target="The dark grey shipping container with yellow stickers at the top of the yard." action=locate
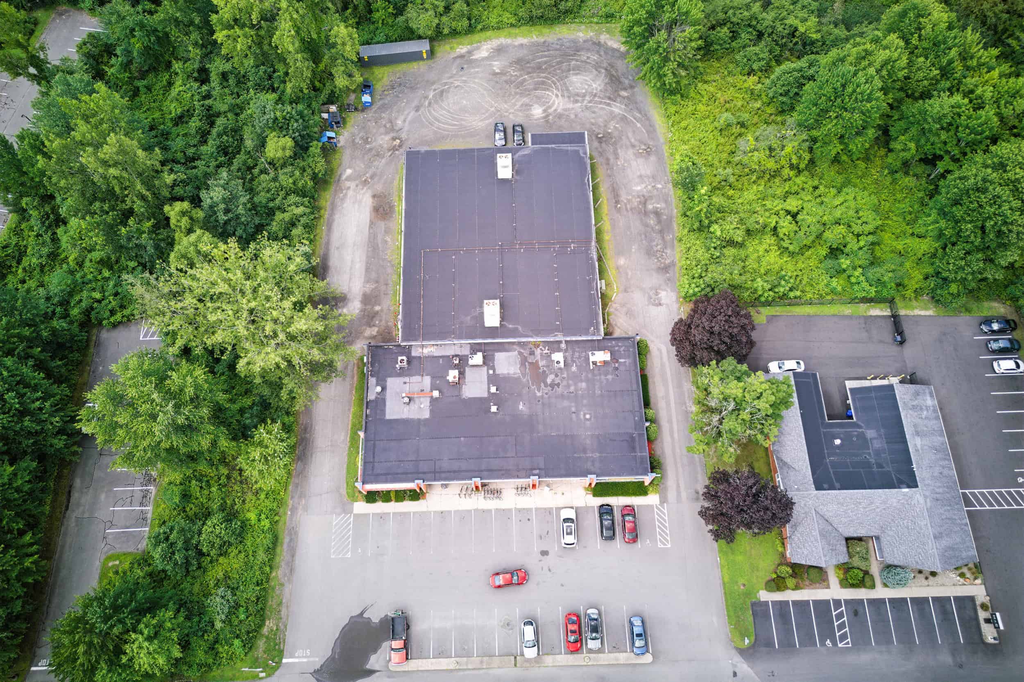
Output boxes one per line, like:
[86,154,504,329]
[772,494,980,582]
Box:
[359,38,433,67]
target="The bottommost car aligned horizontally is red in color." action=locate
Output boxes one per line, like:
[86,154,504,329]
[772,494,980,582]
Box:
[489,569,528,589]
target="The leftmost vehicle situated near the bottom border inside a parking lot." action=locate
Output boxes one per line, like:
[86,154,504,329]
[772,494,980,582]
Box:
[388,611,408,665]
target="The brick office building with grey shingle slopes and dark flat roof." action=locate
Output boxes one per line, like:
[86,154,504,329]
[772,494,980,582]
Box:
[769,370,979,573]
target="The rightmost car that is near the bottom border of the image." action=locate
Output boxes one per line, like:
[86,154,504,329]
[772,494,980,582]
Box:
[629,615,649,658]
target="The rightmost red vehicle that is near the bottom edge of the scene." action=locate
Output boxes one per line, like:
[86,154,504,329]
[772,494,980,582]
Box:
[564,612,583,654]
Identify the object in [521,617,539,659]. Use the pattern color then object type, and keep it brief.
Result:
white car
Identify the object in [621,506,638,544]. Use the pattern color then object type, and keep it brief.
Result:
red car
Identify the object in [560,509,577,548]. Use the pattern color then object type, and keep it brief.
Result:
white car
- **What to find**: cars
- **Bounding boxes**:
[493,119,507,147]
[564,612,583,654]
[621,506,638,544]
[512,120,525,146]
[985,337,1021,353]
[629,615,649,658]
[521,617,539,659]
[584,608,604,651]
[992,358,1024,374]
[598,504,615,541]
[489,569,528,589]
[980,317,1018,333]
[768,358,804,373]
[560,509,577,548]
